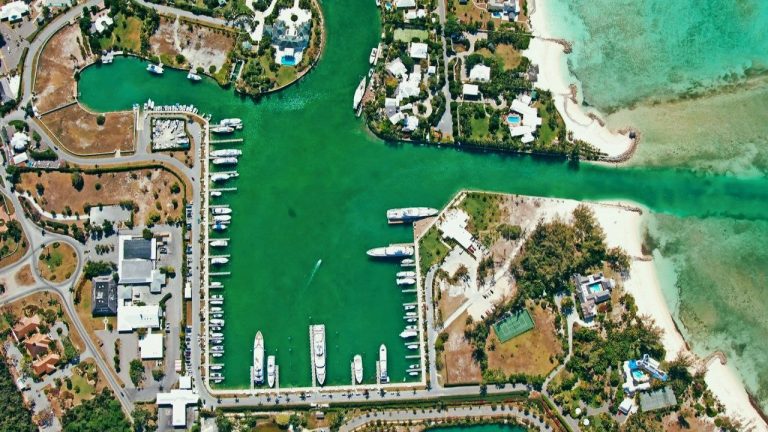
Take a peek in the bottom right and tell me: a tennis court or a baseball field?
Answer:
tennis court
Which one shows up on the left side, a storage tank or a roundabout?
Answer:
roundabout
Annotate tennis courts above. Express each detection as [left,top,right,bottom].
[394,28,428,42]
[641,387,676,411]
[494,309,535,344]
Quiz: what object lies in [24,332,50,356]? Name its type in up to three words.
house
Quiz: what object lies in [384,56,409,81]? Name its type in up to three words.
house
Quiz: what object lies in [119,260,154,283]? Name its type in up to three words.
building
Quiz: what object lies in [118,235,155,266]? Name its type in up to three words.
building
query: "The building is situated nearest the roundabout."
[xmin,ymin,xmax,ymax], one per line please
[91,278,116,316]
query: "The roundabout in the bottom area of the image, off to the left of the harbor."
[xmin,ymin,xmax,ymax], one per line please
[31,236,84,289]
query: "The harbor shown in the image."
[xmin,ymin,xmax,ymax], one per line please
[132,110,426,394]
